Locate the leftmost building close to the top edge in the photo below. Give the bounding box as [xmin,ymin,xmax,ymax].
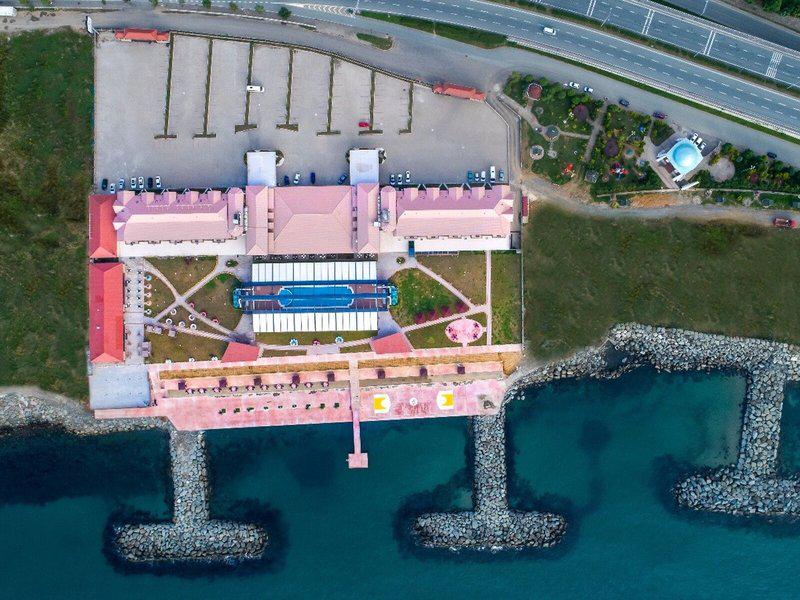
[111,23,169,44]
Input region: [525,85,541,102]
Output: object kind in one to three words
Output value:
gazebo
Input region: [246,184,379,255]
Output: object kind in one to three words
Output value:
building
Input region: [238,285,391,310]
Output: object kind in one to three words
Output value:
swimming pool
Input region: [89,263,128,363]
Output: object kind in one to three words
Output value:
shed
